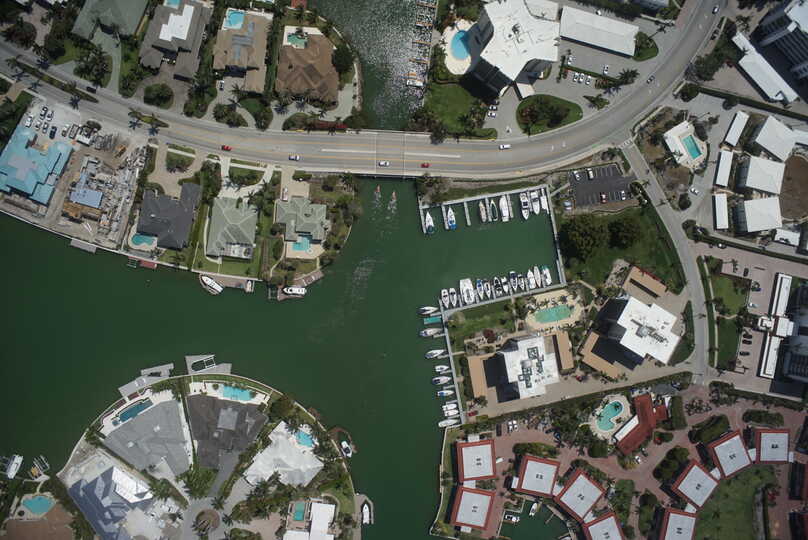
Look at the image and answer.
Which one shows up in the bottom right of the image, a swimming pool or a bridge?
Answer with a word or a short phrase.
swimming pool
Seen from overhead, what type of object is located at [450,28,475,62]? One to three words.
swimming pool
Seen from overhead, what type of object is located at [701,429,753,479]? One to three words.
house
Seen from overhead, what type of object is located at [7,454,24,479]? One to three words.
boat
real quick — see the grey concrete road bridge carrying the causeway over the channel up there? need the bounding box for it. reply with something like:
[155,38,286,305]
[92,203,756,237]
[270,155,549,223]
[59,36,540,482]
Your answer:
[371,132,410,177]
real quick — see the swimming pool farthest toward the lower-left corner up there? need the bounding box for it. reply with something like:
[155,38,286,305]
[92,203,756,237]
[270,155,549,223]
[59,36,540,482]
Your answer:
[21,496,56,517]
